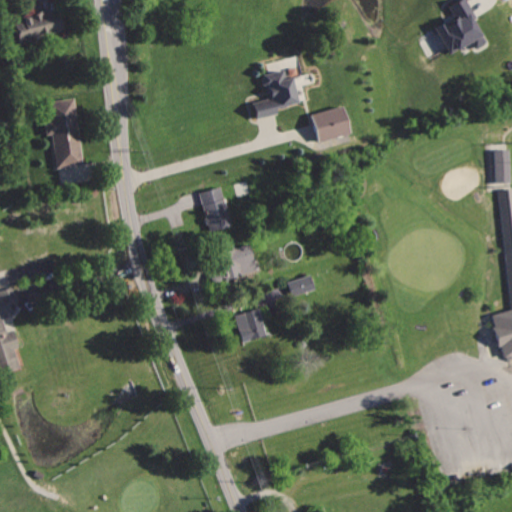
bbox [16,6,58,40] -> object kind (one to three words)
house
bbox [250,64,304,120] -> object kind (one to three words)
house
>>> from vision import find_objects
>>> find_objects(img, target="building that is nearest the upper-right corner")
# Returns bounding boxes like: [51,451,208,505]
[438,0,492,54]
